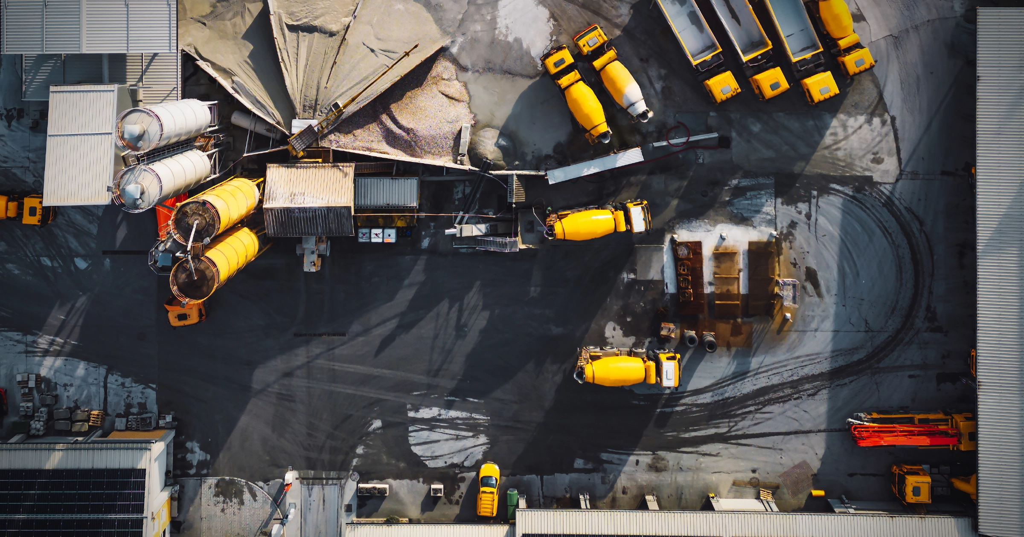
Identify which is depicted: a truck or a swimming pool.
truck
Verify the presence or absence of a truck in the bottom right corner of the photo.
Yes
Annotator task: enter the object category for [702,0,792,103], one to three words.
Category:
truck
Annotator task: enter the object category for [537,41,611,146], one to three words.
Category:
truck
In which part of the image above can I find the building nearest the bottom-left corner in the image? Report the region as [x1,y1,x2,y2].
[0,421,182,537]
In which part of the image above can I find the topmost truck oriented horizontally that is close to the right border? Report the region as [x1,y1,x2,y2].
[846,410,975,453]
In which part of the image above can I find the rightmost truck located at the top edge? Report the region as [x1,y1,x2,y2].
[807,0,877,79]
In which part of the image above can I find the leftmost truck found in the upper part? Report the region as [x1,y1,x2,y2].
[0,192,53,226]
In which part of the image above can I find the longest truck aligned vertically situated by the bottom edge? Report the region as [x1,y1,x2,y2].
[476,460,500,519]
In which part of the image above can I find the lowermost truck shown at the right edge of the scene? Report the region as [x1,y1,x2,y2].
[882,462,975,505]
